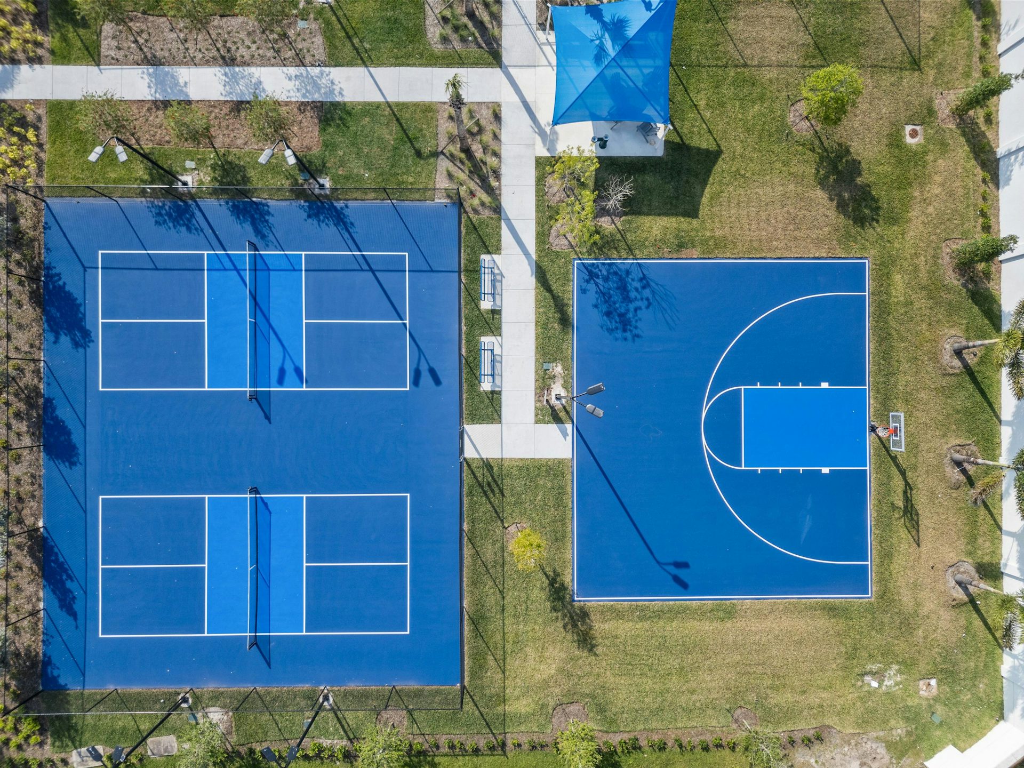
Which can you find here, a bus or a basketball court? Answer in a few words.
basketball court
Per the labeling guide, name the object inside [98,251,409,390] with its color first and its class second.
blue sports court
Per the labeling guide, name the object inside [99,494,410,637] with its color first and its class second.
blue sports court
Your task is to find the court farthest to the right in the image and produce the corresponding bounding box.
[572,258,873,603]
